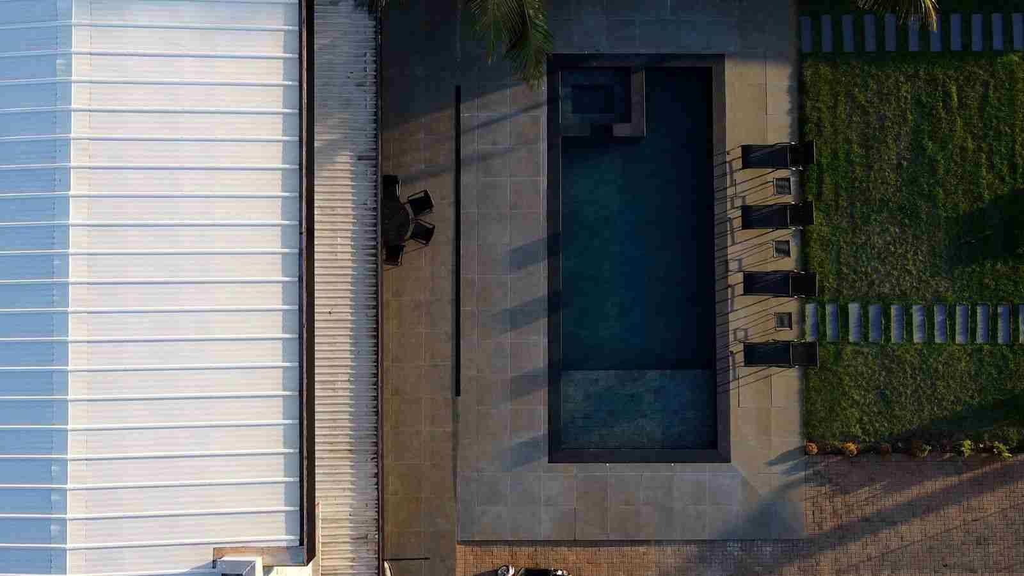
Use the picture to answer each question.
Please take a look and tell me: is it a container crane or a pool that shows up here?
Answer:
pool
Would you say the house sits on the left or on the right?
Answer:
left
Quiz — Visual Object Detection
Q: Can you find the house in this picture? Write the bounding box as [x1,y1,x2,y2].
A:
[0,0,383,576]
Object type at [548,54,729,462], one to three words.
swimming pool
